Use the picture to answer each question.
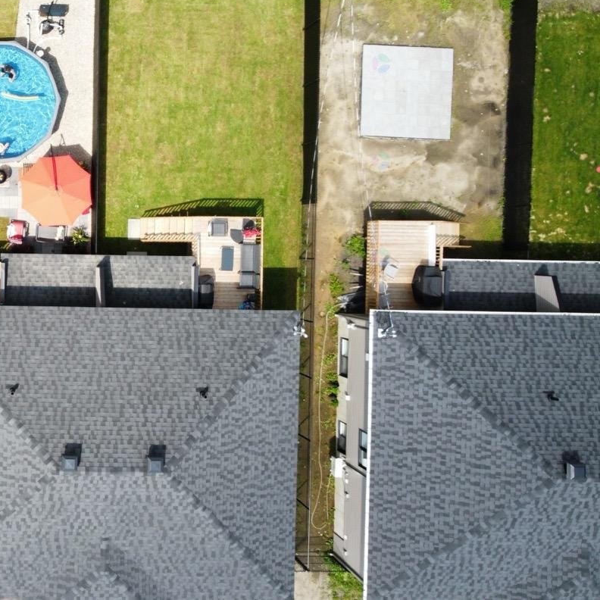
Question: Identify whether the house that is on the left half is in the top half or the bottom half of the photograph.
bottom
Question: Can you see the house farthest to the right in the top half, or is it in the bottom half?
bottom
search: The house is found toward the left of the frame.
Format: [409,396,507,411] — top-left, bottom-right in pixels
[0,251,304,600]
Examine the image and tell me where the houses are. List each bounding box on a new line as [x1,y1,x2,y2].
[0,251,304,600]
[336,254,600,600]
